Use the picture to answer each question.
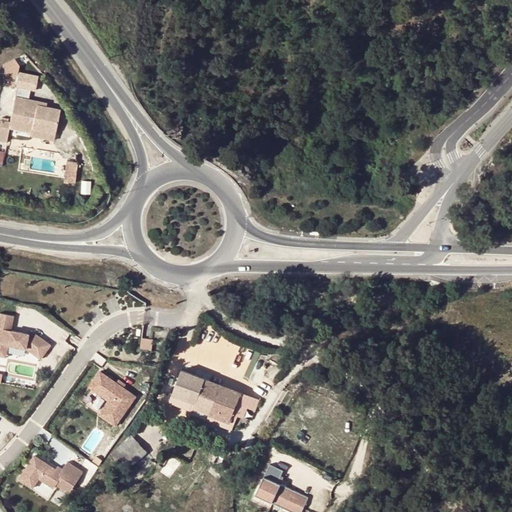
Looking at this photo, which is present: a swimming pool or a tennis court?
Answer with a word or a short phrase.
swimming pool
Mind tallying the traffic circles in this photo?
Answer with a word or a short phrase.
1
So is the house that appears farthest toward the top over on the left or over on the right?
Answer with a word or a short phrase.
left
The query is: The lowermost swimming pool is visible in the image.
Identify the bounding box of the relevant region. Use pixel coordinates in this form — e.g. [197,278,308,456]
[84,430,102,452]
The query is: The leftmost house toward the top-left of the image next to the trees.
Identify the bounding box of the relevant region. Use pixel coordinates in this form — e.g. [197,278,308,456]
[0,59,60,142]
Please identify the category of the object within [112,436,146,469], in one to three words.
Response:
building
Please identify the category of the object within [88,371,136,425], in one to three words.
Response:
house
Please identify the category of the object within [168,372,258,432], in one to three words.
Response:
house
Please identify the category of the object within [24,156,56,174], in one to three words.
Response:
swimming pool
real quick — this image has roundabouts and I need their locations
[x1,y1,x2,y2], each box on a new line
[122,160,246,286]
